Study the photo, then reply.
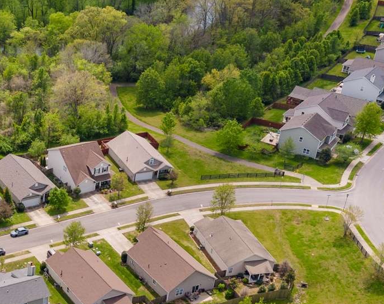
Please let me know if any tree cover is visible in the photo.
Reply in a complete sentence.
Yes, the picture does contain tree cover.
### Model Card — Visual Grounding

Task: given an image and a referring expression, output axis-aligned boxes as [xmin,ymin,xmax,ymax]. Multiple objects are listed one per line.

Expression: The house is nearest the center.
[107,131,176,182]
